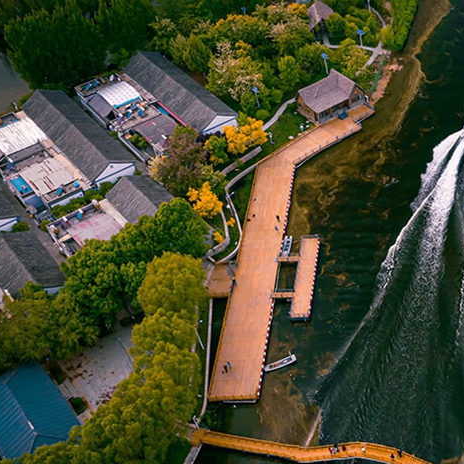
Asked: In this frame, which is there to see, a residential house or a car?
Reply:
residential house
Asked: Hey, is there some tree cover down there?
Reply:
Yes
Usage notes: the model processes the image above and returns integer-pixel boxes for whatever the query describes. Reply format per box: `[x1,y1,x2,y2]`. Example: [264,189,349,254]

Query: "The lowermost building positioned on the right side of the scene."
[290,70,368,128]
